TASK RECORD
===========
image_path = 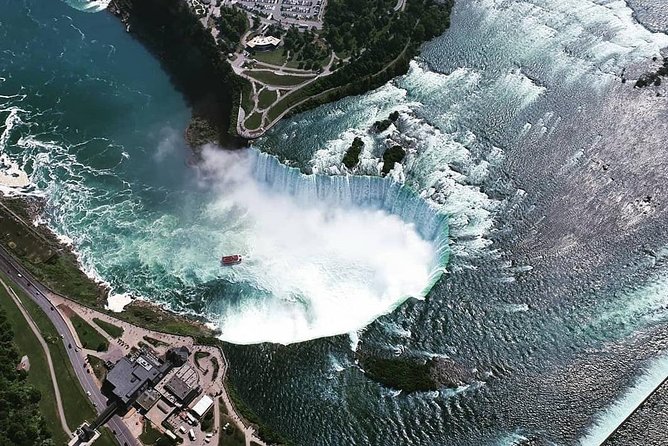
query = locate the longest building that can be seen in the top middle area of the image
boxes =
[247,36,281,50]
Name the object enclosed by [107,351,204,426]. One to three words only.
building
